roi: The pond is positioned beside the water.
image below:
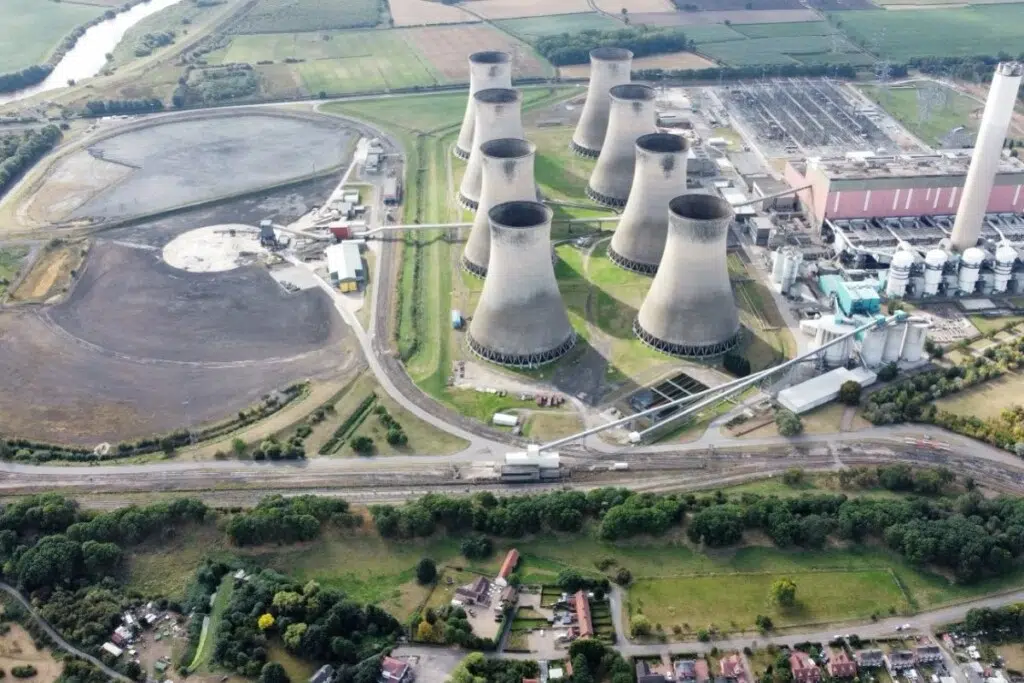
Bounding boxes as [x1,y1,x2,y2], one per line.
[66,111,357,223]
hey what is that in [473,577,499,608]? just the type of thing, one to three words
house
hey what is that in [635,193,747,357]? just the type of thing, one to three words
cooling tower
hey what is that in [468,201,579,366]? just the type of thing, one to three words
cooling tower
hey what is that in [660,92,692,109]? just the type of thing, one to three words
shed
